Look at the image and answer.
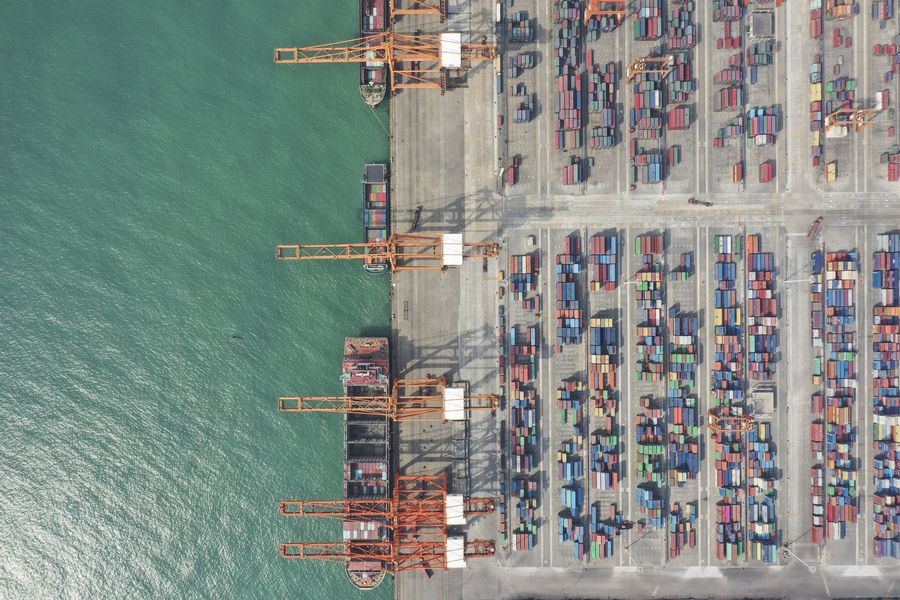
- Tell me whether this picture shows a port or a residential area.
port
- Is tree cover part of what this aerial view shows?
No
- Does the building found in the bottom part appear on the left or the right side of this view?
right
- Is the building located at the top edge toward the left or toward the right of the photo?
right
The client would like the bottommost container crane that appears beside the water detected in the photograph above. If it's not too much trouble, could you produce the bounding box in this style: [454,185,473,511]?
[278,504,503,575]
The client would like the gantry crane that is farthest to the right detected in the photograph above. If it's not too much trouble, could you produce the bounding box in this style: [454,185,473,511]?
[825,107,882,134]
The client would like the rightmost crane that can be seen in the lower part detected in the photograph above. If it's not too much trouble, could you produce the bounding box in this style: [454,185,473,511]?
[705,409,756,431]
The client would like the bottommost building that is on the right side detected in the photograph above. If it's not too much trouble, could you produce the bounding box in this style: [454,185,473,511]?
[749,392,773,417]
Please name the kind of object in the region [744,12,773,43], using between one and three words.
building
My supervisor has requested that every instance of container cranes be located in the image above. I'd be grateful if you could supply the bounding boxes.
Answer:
[275,227,499,281]
[627,56,674,85]
[584,0,628,28]
[273,25,497,101]
[705,409,756,431]
[388,0,445,29]
[278,504,503,575]
[278,460,502,530]
[825,107,882,134]
[277,365,501,424]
